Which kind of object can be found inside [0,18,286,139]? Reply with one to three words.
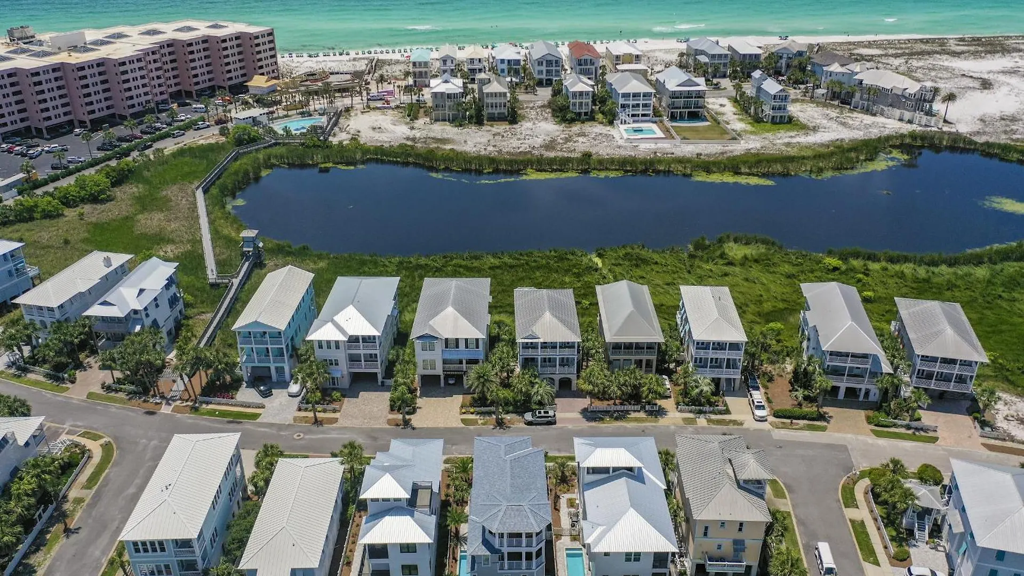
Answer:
building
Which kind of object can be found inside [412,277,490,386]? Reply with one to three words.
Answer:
house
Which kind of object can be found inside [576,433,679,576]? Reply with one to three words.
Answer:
house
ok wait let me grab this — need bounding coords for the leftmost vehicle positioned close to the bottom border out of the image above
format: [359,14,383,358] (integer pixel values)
[812,531,841,576]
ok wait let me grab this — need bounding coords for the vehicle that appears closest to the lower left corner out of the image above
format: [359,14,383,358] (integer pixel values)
[251,376,272,398]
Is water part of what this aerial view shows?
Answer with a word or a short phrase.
Yes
